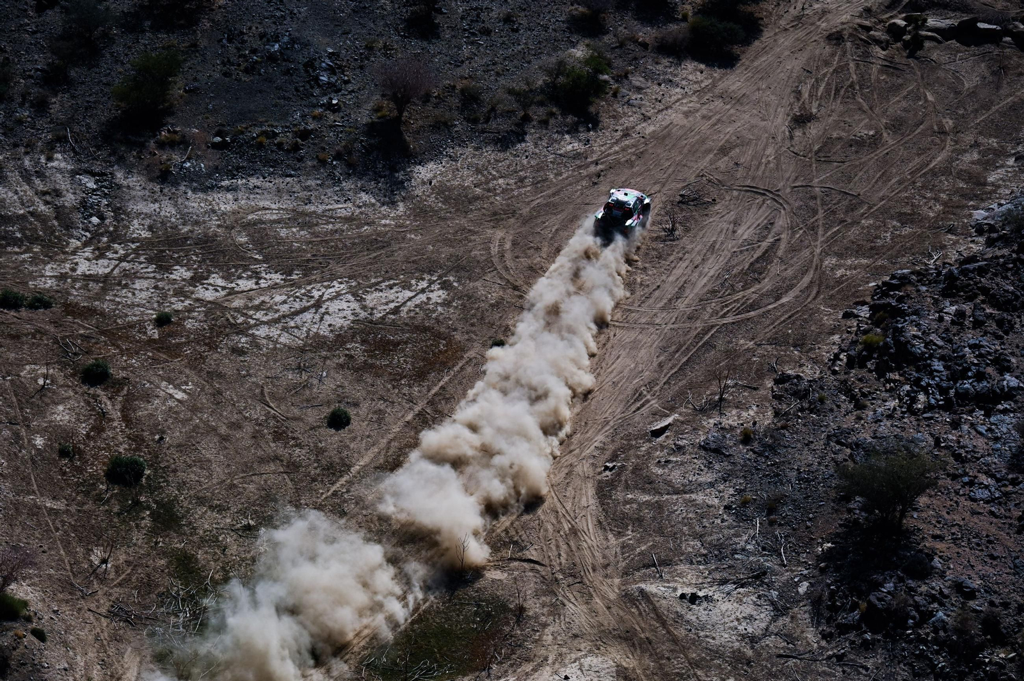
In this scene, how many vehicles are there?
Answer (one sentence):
There is 1 vehicle in the image.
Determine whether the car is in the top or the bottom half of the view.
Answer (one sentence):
Seen from above, the car lies in the top half of the view.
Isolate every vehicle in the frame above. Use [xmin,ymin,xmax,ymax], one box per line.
[593,187,653,244]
